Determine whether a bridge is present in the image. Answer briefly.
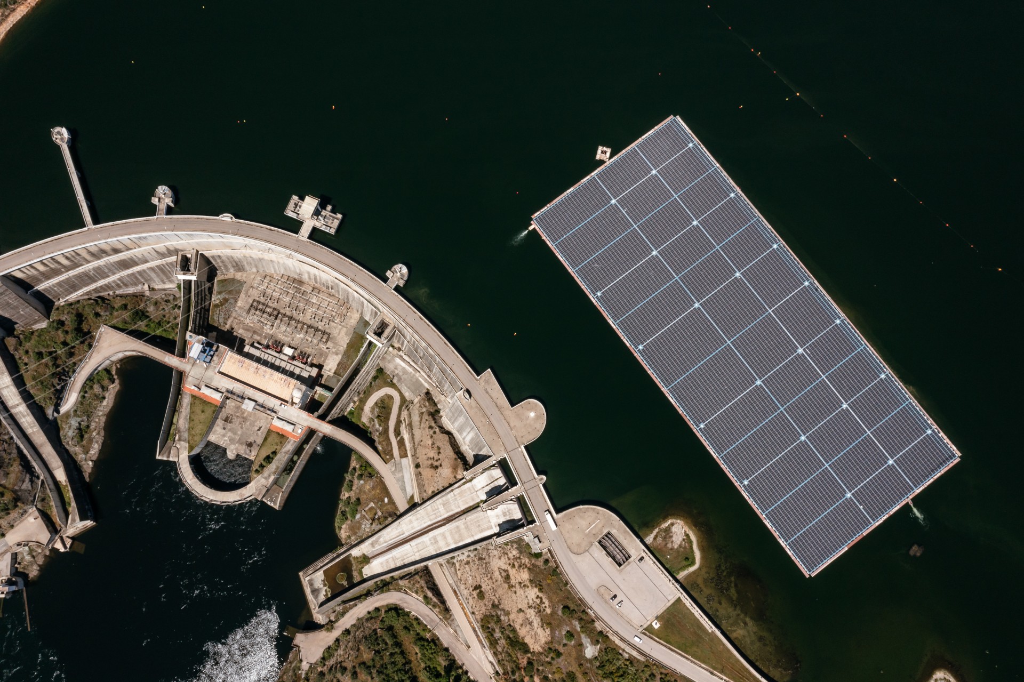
Yes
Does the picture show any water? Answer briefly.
Yes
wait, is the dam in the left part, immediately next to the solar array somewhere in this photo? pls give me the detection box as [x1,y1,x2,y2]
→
[0,215,477,397]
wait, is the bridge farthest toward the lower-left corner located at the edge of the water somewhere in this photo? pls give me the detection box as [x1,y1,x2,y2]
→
[59,325,187,415]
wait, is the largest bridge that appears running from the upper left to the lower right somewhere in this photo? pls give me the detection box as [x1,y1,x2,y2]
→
[307,416,410,511]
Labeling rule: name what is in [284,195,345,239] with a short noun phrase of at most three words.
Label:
building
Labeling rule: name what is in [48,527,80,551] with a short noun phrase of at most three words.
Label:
building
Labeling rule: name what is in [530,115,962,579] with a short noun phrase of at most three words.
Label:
solar array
